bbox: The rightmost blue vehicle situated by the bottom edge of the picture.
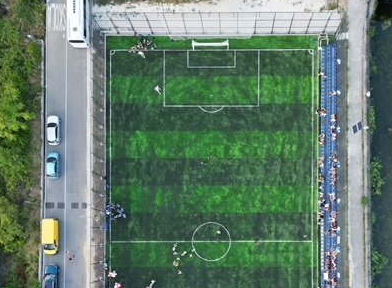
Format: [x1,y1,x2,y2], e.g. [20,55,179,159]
[43,264,62,288]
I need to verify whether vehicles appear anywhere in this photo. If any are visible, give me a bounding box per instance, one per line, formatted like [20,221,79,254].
[43,264,62,288]
[42,219,60,254]
[46,152,62,179]
[66,0,91,49]
[44,116,62,146]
